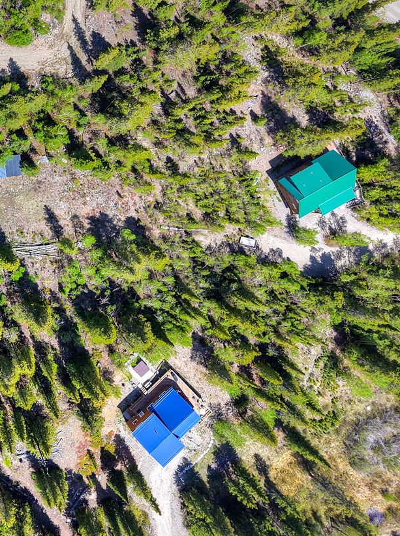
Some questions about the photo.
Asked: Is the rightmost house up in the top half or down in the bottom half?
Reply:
top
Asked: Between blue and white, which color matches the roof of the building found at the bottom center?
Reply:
blue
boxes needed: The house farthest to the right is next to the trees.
[266,146,366,218]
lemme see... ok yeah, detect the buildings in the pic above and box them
[123,368,213,468]
[266,146,366,218]
[0,154,21,179]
